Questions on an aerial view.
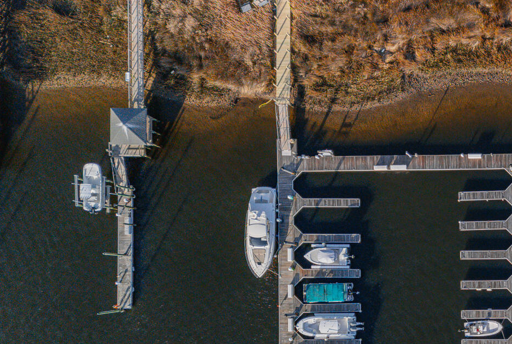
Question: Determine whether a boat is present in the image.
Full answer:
Yes, looking at the shot, I can spot a boat.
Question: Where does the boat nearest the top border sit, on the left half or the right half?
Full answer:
The boat nearest the top border sits on the left side.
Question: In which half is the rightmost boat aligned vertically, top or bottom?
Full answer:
The bottom half of the photo is where the rightmost boat aligned vertically is.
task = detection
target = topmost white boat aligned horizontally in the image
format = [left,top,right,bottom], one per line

[303,248,359,265]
